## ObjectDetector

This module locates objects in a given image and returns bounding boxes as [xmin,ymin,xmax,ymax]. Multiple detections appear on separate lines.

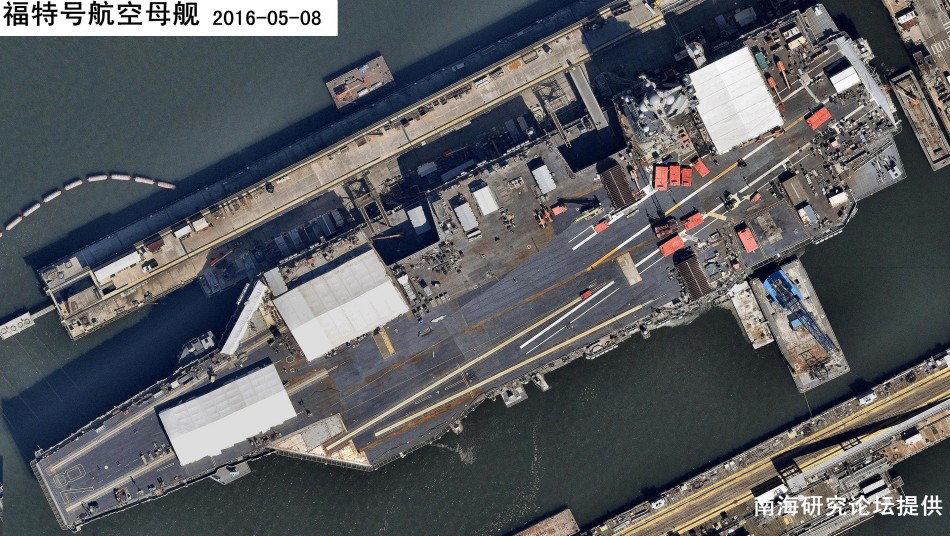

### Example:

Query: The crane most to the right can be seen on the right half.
[764,270,843,361]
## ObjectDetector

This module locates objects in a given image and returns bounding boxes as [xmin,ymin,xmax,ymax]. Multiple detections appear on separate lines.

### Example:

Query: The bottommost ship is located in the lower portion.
[516,508,581,536]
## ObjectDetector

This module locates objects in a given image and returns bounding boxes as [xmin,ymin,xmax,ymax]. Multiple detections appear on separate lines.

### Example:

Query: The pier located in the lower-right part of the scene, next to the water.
[576,344,950,536]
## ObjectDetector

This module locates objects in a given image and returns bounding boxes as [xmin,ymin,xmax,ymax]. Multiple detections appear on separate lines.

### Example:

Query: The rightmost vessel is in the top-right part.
[890,70,950,172]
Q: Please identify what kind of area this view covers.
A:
port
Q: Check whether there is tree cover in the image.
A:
No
